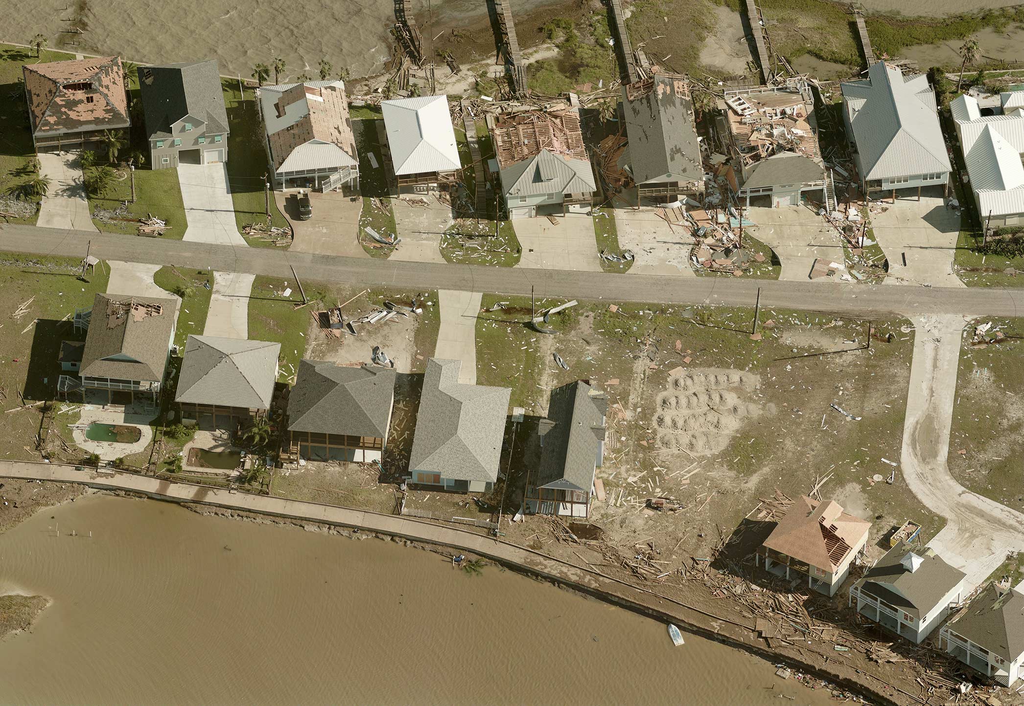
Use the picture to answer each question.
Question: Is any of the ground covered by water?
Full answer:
Yes, water can be seen from above here.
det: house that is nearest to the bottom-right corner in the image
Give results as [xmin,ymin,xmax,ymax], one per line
[946,581,1024,685]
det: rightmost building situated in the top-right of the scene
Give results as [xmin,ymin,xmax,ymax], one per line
[950,90,1024,228]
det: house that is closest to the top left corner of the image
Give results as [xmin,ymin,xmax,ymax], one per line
[22,55,132,157]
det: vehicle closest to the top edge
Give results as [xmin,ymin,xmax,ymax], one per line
[297,186,313,217]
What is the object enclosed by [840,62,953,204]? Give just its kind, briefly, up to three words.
house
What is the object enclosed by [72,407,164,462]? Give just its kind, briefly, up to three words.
swimming pool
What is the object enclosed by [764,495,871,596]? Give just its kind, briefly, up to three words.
house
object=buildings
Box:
[260,80,358,196]
[840,62,953,204]
[488,106,595,222]
[621,80,704,209]
[277,357,397,468]
[58,293,178,411]
[525,375,609,520]
[854,540,965,643]
[946,581,1024,685]
[405,358,512,497]
[950,90,1024,228]
[764,495,871,596]
[174,335,282,443]
[138,59,229,168]
[381,95,462,199]
[22,55,132,157]
[725,82,839,211]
